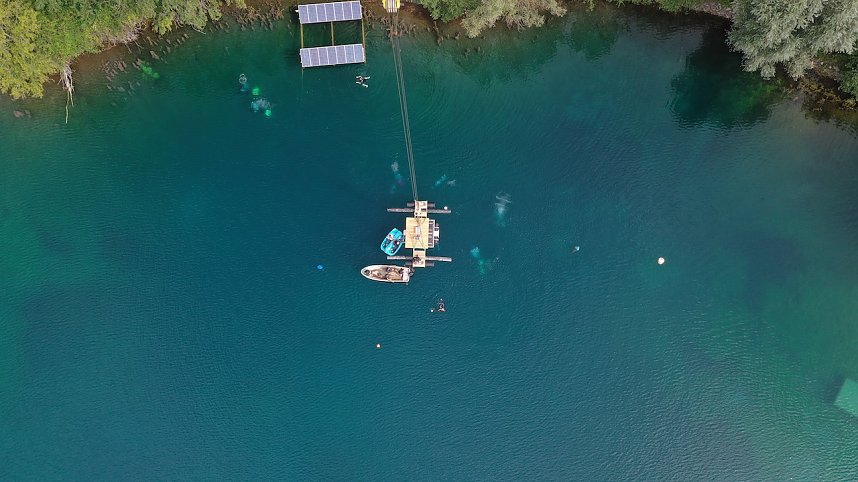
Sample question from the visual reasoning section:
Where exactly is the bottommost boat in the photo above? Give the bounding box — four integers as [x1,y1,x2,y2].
[360,265,414,282]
